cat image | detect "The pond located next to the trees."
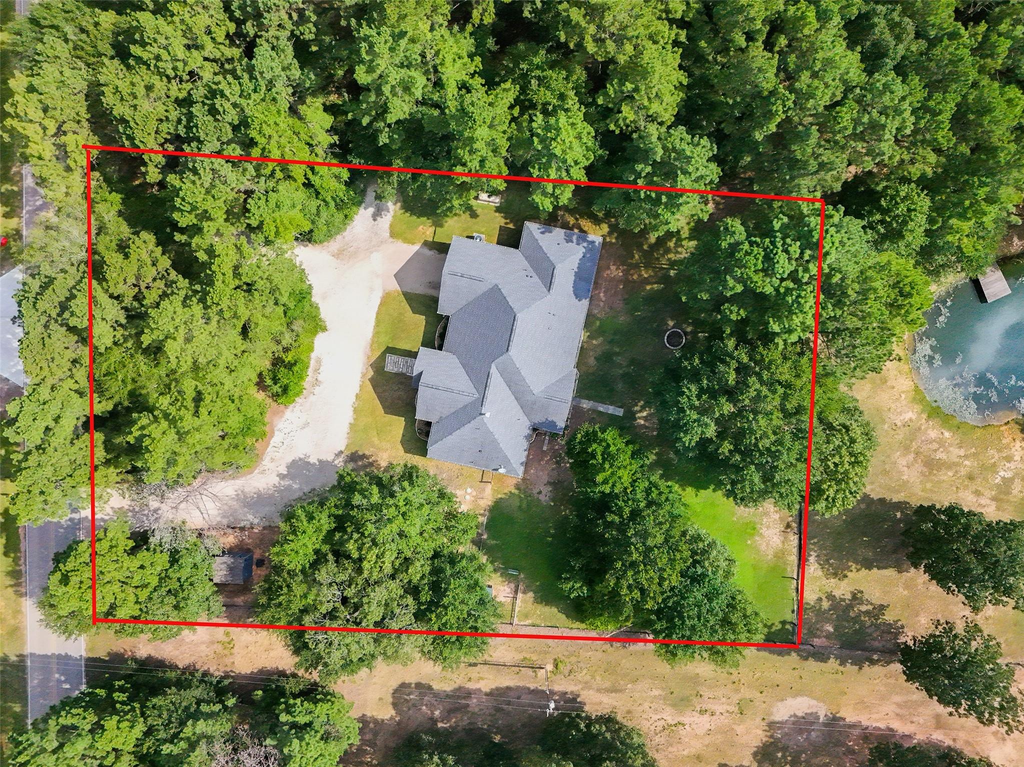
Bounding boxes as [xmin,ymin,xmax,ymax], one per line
[913,261,1024,424]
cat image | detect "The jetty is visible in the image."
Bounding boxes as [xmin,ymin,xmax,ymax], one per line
[971,261,1012,303]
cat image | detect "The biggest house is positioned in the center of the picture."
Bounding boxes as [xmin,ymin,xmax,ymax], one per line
[411,221,602,478]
